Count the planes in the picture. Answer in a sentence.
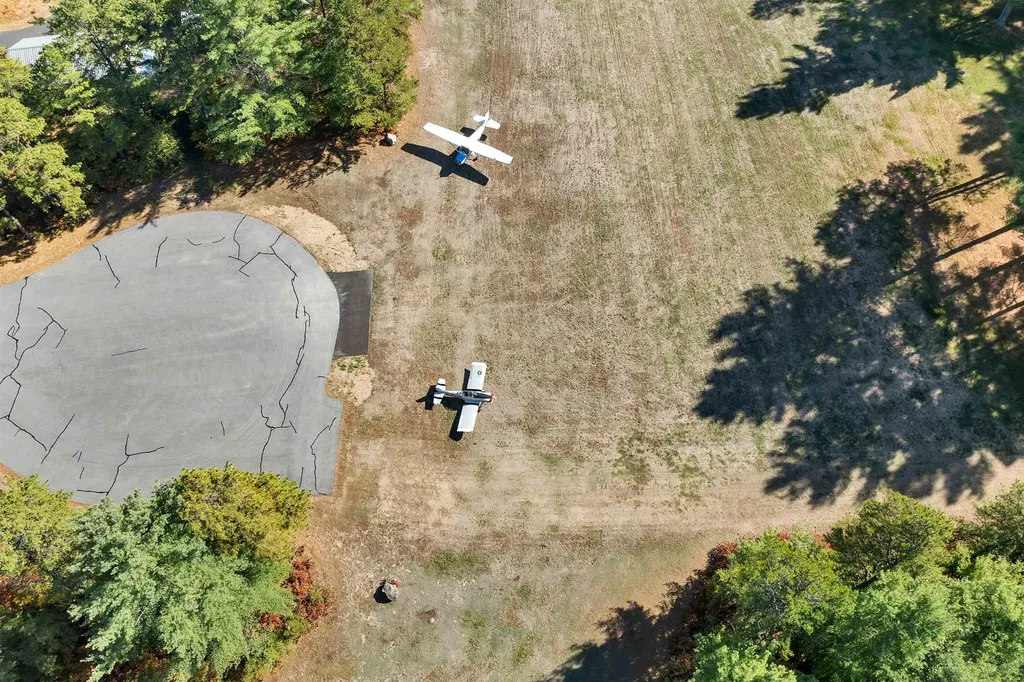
The picture shows 2 planes.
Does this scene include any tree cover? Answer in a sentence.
Yes, tree cover can be seen from above here.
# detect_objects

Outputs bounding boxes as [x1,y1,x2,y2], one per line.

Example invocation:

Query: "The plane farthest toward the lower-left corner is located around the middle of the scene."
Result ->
[432,362,496,433]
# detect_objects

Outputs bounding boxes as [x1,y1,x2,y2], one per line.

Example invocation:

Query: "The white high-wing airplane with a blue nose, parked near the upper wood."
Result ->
[423,109,513,168]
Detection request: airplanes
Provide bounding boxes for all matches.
[432,362,496,433]
[423,109,513,168]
